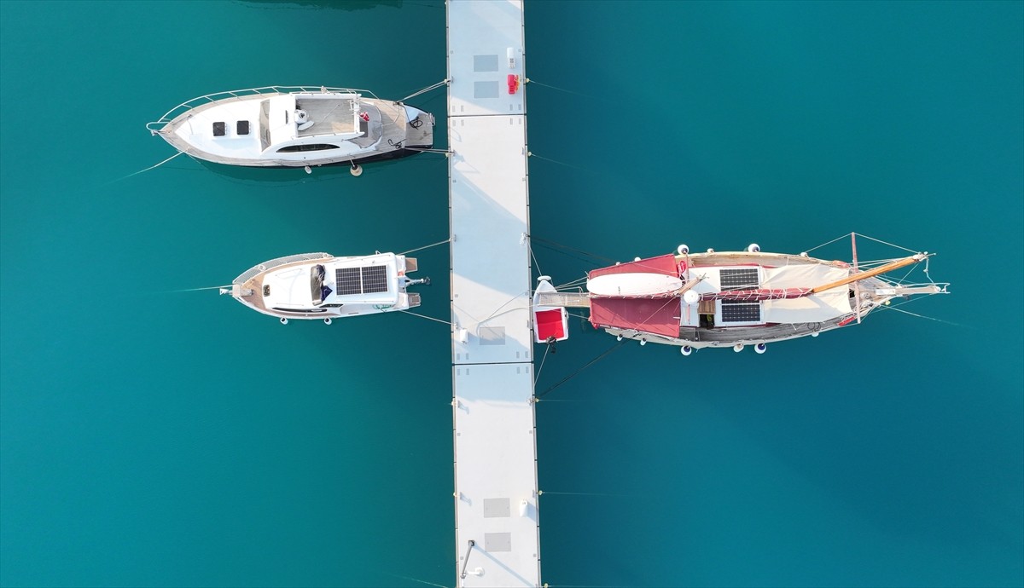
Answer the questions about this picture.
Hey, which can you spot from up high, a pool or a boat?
boat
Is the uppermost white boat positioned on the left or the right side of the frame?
left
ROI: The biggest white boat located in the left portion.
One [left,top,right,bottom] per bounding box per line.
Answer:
[146,85,435,174]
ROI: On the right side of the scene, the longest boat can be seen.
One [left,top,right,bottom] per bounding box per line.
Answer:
[585,233,950,348]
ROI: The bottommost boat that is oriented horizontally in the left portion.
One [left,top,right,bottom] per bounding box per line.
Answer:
[220,251,430,322]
